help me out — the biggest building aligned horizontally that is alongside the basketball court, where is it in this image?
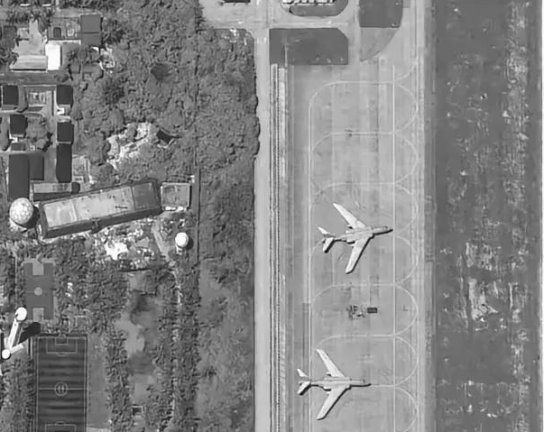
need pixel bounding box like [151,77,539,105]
[39,181,162,241]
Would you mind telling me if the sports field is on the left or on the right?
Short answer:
left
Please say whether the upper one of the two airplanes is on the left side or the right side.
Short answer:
right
